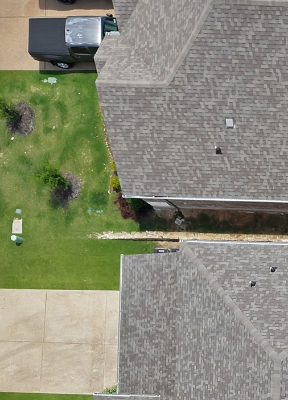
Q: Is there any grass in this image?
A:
Yes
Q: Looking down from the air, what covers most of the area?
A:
buildings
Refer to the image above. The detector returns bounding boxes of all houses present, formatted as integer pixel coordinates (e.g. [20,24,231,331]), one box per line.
[91,238,288,400]
[93,0,288,218]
